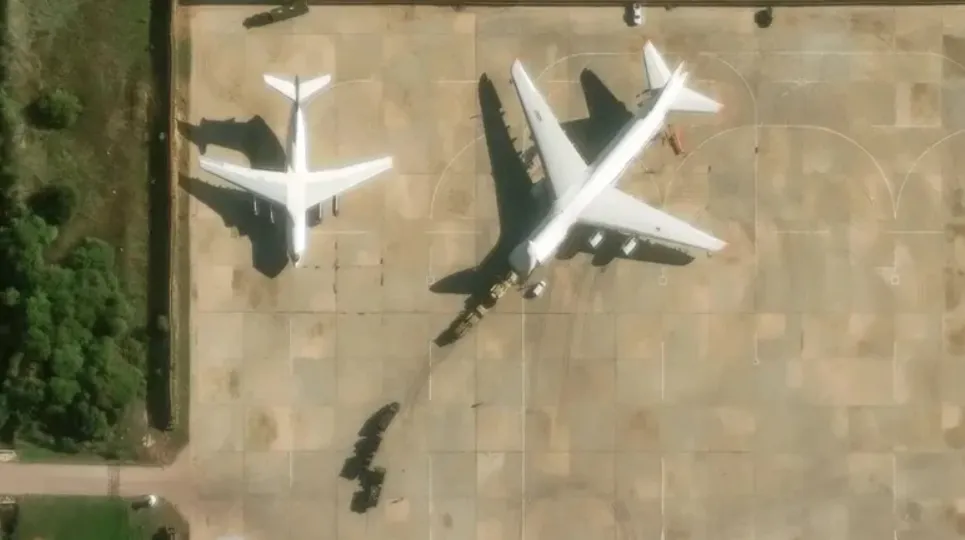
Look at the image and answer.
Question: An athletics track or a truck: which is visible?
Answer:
truck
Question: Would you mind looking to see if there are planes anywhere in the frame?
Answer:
Yes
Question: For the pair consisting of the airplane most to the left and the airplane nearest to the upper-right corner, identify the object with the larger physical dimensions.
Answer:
the airplane nearest to the upper-right corner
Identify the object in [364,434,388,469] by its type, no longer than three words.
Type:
truck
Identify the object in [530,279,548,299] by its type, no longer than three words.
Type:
vehicle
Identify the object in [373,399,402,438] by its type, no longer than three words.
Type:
truck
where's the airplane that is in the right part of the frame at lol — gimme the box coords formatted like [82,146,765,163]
[510,41,728,281]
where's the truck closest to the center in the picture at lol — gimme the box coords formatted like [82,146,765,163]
[489,266,524,304]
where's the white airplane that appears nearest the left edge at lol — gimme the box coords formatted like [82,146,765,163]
[199,74,392,266]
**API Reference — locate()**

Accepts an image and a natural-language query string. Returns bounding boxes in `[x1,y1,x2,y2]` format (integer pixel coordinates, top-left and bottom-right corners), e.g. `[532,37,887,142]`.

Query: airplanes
[510,41,728,281]
[199,74,392,266]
